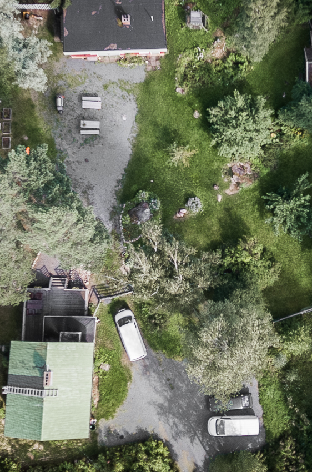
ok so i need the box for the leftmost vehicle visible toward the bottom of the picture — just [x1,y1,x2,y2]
[113,308,148,364]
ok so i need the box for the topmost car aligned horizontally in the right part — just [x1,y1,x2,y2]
[209,392,254,415]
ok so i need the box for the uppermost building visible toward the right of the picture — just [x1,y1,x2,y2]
[189,11,210,34]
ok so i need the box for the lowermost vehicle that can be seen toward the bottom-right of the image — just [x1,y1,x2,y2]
[205,414,260,441]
